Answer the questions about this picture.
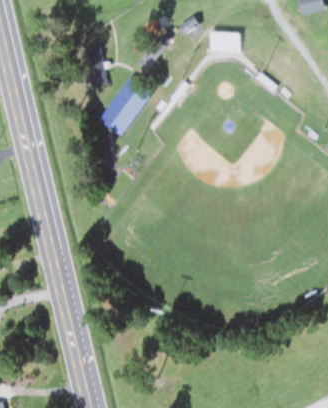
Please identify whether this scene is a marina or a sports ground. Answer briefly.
sports ground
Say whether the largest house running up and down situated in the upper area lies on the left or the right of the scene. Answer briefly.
left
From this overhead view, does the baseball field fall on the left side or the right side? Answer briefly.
right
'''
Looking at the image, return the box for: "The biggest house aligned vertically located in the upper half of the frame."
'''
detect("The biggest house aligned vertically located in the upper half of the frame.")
[90,45,112,86]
